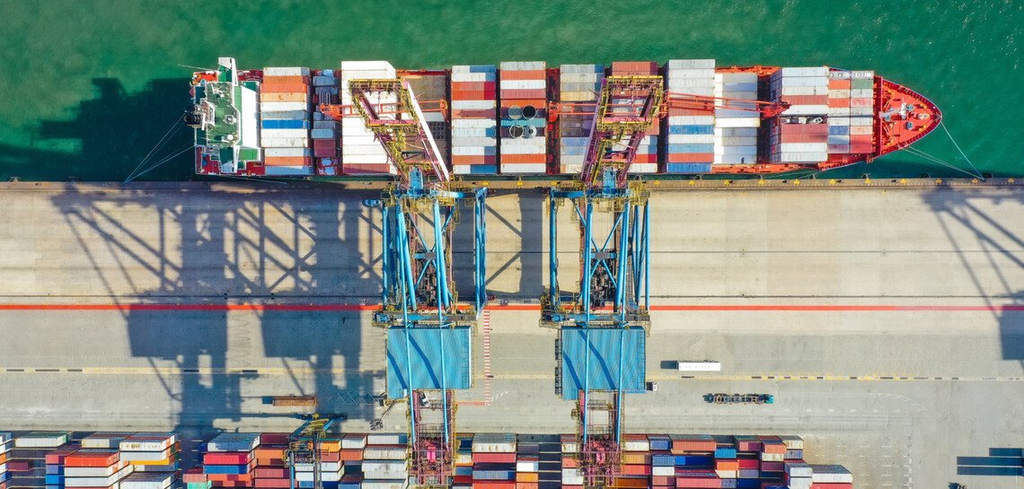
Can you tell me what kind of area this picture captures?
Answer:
port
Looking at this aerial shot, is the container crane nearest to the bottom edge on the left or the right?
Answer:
left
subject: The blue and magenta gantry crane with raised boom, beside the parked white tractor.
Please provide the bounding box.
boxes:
[539,83,669,489]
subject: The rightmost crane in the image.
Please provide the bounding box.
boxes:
[664,88,794,118]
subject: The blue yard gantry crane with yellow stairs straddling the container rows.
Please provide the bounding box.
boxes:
[277,410,350,489]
